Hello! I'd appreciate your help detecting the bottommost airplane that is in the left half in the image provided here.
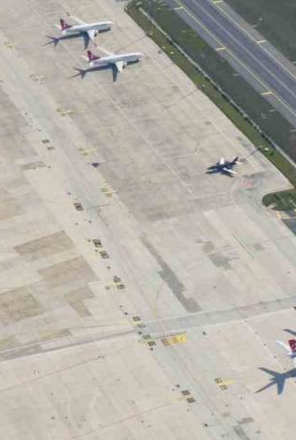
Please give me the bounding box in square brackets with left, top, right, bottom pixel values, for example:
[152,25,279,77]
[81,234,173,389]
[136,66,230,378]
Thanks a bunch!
[87,45,143,73]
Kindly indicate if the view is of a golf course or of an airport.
airport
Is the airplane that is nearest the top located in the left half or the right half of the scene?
left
